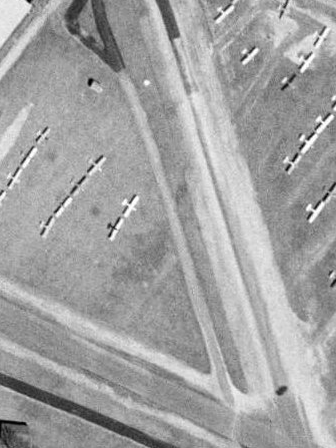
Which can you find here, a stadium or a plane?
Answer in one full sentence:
I can see a plane in this picture.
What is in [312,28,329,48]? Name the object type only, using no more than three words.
airplane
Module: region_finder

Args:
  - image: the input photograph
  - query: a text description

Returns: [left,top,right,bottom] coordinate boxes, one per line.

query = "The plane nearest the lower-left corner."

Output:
[39,218,55,237]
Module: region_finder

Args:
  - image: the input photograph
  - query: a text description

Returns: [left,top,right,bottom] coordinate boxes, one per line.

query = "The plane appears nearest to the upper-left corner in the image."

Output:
[33,129,49,145]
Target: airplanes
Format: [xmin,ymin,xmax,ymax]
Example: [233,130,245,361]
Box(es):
[5,170,22,188]
[105,218,123,240]
[33,129,49,145]
[274,0,291,21]
[121,197,139,216]
[321,184,336,204]
[52,197,72,216]
[215,5,234,23]
[285,156,302,174]
[19,148,37,168]
[312,28,329,48]
[316,114,334,133]
[88,156,106,174]
[242,48,259,64]
[299,134,318,153]
[39,218,55,237]
[297,53,316,73]
[70,177,88,196]
[0,192,6,205]
[306,204,324,222]
[282,76,298,93]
